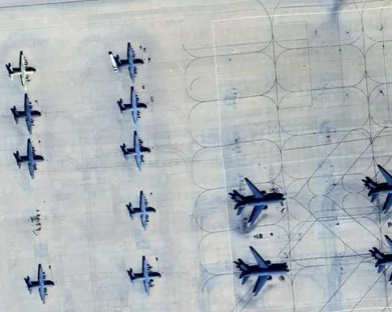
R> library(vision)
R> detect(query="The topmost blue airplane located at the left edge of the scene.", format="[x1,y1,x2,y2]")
[15,101,40,134]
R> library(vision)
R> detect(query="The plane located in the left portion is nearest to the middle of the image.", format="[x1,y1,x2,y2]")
[125,137,150,170]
